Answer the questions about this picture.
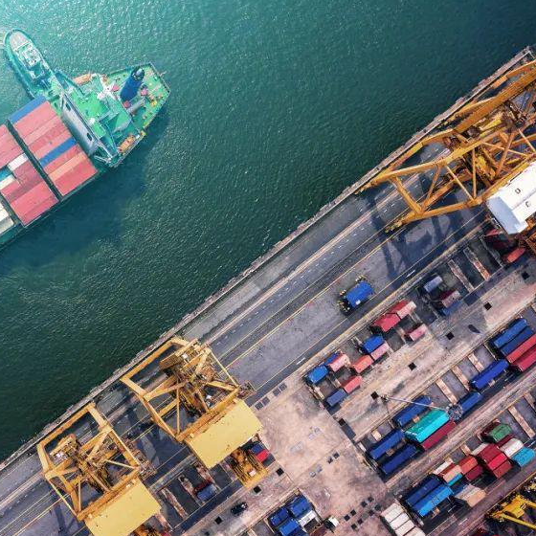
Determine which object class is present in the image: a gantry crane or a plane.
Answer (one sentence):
Looking from above, you can make out a gantry crane.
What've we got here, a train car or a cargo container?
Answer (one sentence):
The image shows a cargo container.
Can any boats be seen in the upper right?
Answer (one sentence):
No, in the upper right there is no boat.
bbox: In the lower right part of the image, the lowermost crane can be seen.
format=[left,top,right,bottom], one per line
[489,483,536,526]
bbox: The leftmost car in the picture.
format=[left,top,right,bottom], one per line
[230,501,247,516]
